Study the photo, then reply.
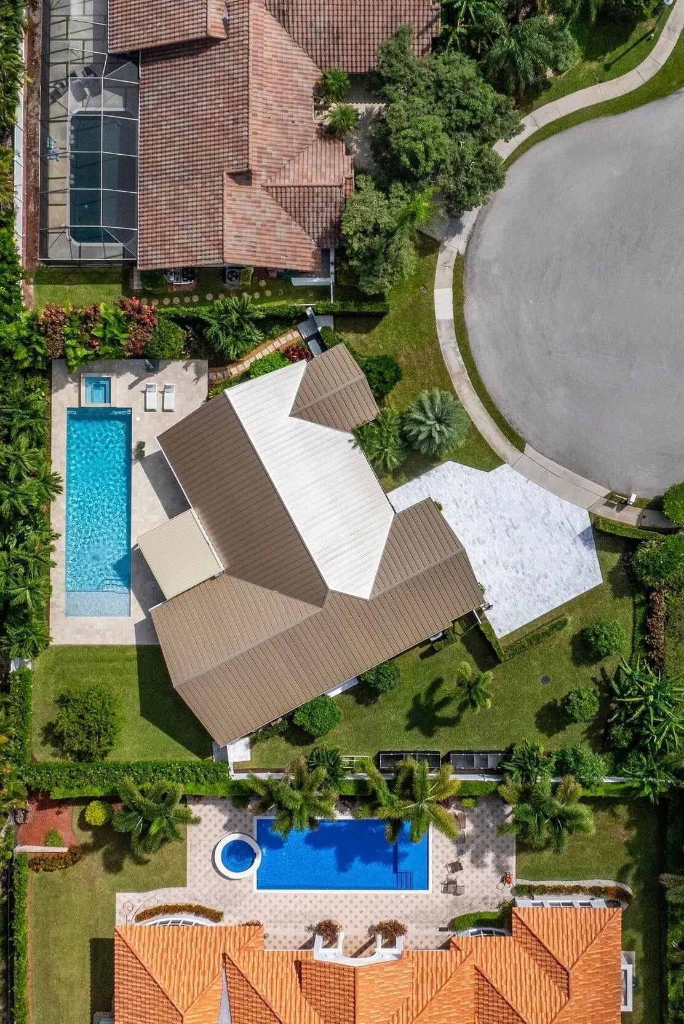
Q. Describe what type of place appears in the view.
residential area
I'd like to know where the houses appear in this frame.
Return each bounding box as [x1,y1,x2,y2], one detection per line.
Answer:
[135,343,491,762]
[107,0,440,271]
[114,892,623,1024]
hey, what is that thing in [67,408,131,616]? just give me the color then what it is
blue swimming pool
